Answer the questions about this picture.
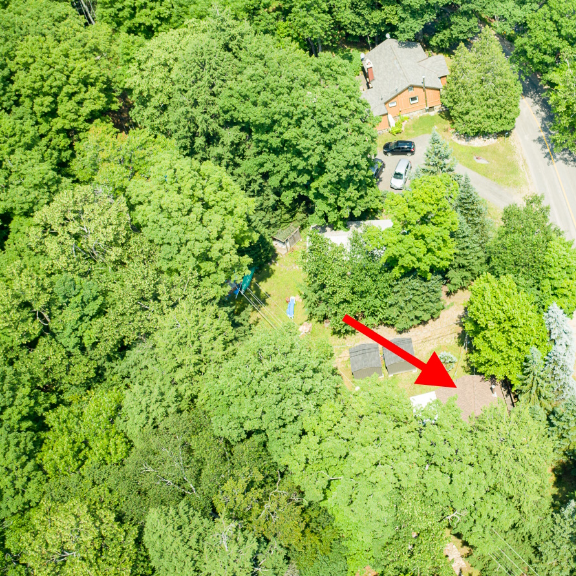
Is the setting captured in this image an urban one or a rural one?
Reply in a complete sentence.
The area is rural.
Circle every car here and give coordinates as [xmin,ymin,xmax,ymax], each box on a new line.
[382,140,416,156]
[390,158,412,189]
[367,155,384,182]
